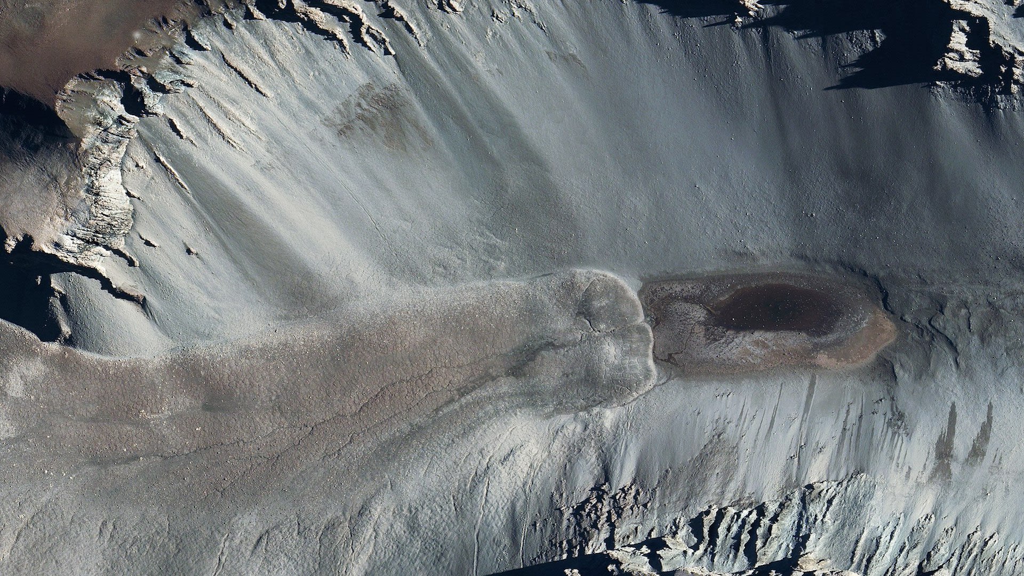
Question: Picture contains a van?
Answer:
No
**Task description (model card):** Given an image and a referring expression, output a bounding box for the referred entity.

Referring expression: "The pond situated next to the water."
[705,282,856,339]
